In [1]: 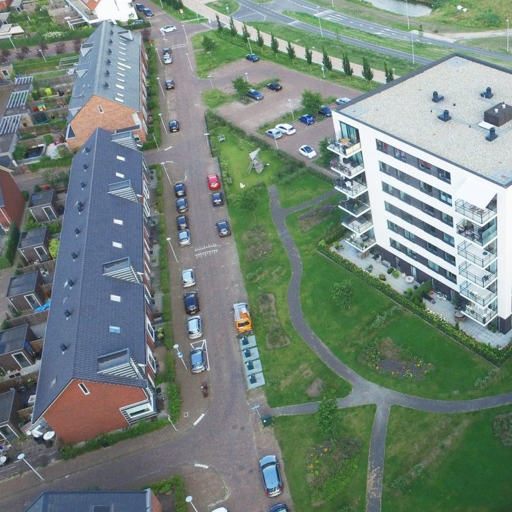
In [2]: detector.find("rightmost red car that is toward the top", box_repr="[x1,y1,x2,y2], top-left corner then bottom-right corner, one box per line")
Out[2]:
[205,174,220,190]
